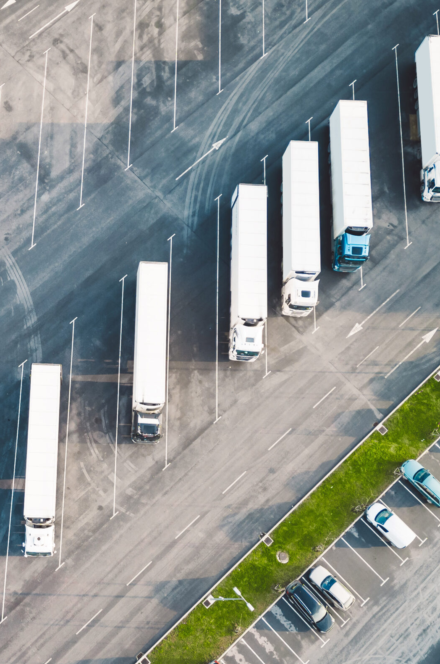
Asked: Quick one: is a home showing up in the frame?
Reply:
No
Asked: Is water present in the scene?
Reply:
No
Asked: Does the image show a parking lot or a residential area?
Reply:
parking lot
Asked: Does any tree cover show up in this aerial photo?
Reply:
No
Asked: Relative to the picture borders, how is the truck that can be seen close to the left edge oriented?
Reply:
from top to bottom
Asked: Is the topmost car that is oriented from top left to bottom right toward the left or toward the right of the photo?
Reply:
right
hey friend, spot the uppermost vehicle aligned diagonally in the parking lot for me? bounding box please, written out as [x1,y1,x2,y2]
[400,460,440,509]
